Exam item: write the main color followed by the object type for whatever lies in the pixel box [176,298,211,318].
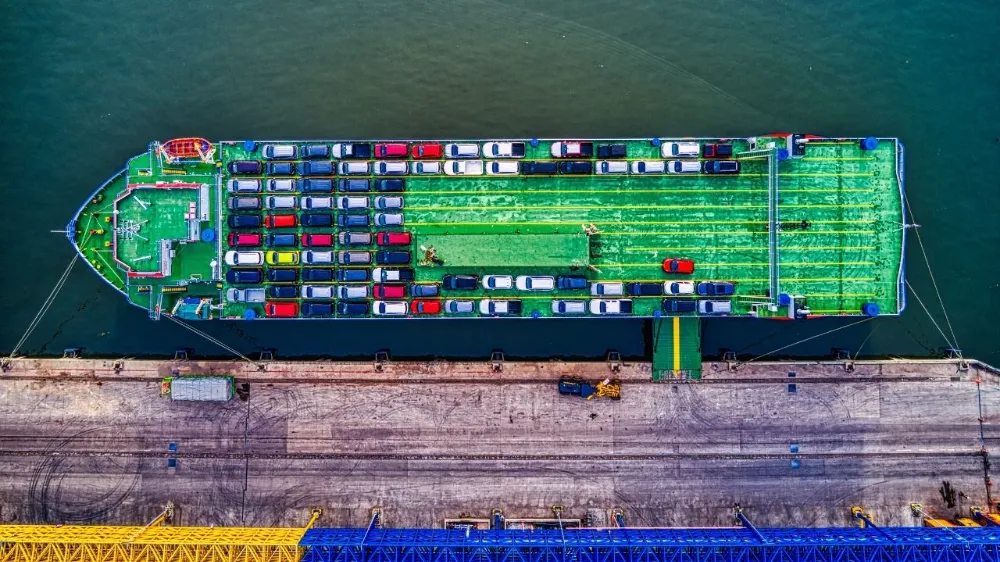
blue boat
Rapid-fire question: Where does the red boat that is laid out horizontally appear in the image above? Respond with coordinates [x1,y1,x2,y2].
[162,139,214,159]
